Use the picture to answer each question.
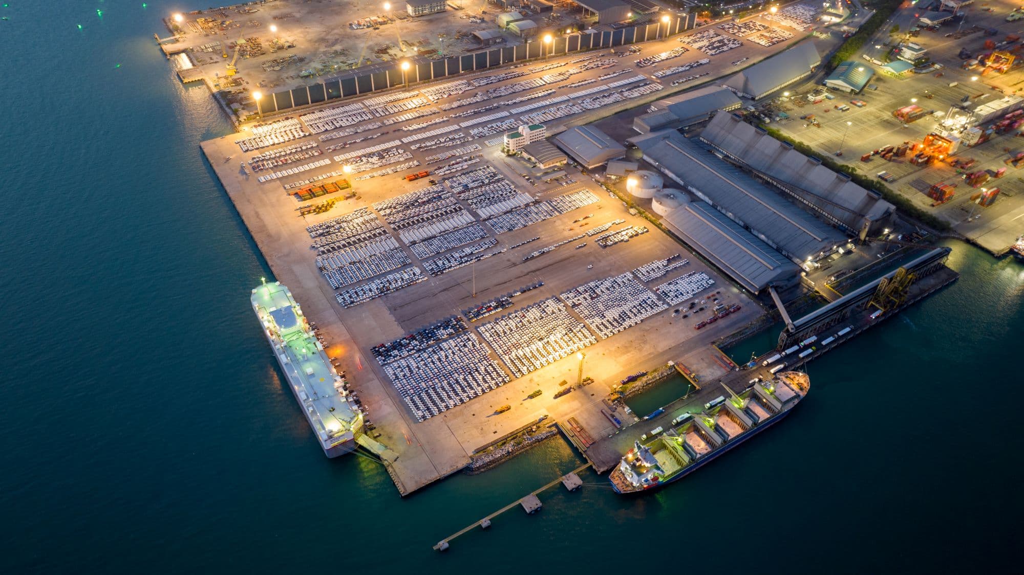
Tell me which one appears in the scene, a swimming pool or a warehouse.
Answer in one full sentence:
The one in the frame is a warehouse.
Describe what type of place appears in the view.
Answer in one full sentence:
It's a port.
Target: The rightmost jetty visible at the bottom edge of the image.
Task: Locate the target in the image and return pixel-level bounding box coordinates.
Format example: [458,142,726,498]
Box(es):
[434,459,593,549]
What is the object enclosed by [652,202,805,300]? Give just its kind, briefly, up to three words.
building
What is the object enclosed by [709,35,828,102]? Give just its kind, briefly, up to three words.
building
